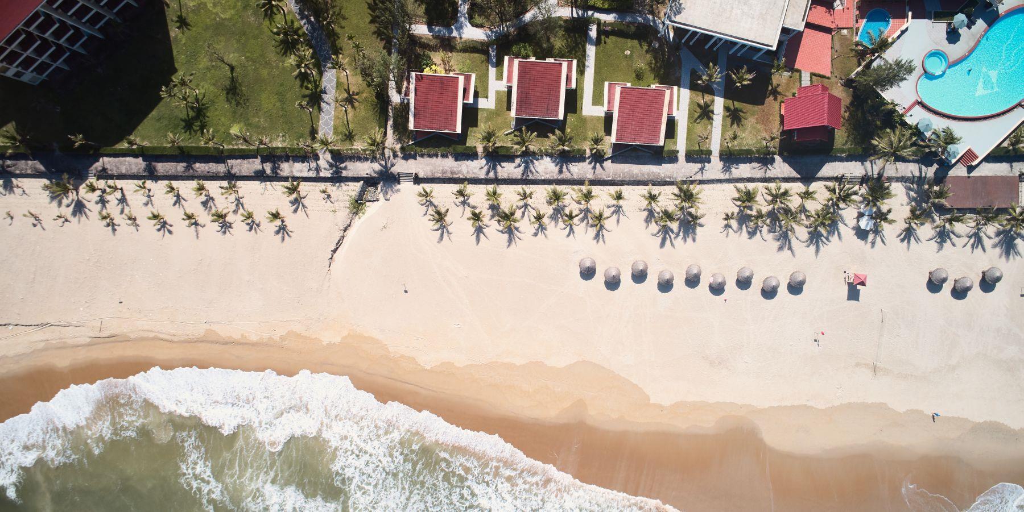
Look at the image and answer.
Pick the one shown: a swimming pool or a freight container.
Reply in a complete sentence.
Of the two, only a swimming pool appears.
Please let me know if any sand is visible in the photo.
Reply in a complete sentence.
Yes, sand can be seen from above here.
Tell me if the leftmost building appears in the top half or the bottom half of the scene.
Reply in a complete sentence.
It is in the top half that the leftmost building appears.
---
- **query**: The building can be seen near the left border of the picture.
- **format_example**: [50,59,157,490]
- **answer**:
[0,0,138,87]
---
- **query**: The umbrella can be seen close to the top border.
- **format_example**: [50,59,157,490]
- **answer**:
[951,14,966,29]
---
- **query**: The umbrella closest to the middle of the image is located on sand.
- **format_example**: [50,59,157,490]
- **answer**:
[578,256,597,275]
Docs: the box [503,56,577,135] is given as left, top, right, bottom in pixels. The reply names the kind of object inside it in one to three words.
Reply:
house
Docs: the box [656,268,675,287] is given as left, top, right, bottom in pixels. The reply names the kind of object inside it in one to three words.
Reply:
umbrella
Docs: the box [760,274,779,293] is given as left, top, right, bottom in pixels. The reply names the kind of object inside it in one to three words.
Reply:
umbrella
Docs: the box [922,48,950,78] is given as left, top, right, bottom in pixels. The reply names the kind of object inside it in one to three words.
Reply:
swimming pool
